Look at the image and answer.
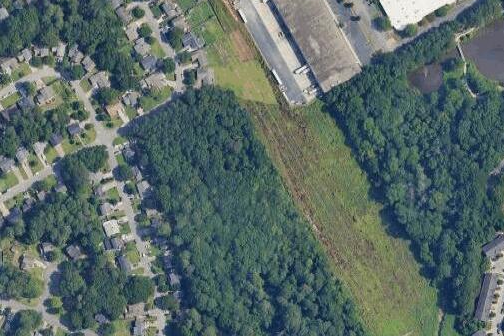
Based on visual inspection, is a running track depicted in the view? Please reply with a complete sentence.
No, I find no running track anywhere in the image.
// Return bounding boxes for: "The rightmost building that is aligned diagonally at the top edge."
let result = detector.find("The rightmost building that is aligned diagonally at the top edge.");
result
[273,0,361,88]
